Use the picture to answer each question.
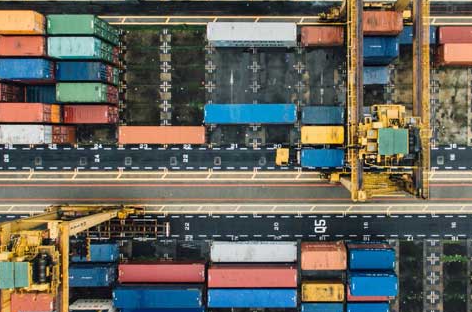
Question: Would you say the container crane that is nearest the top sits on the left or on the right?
right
